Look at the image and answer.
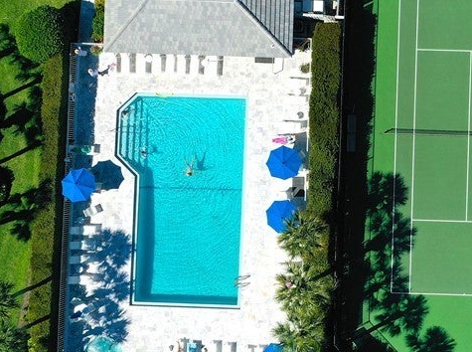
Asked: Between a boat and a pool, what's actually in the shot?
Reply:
pool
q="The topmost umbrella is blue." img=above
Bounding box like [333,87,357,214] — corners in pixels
[267,144,301,179]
